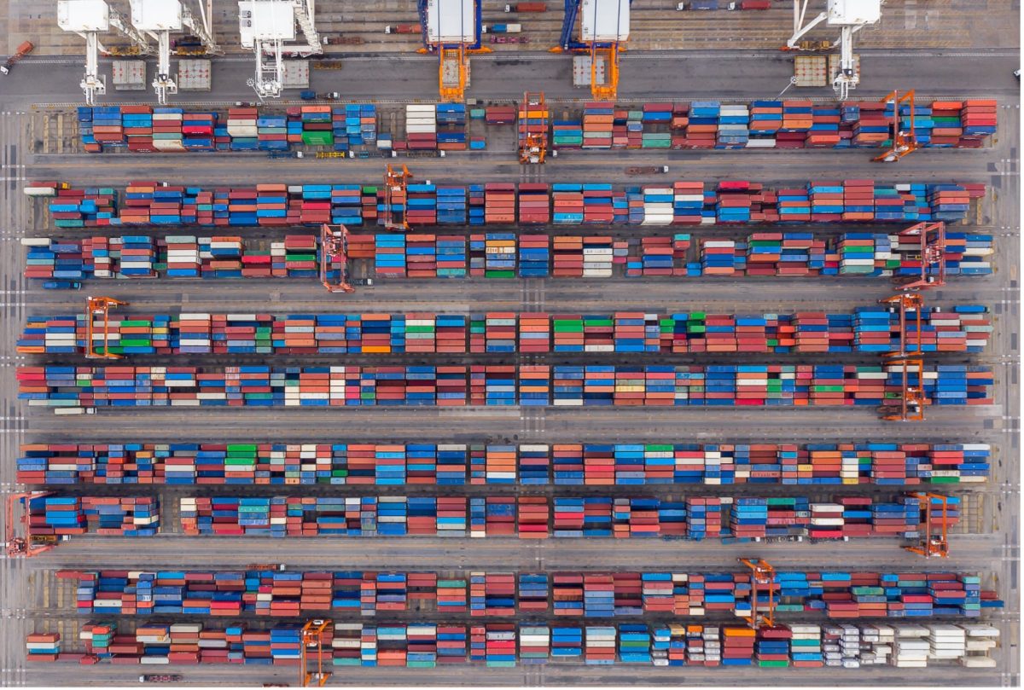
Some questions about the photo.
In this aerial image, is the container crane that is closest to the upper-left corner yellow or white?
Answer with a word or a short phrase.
white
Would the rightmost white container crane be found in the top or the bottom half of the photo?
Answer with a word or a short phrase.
top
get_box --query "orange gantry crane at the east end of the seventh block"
[899,490,948,557]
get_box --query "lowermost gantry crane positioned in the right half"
[734,556,774,626]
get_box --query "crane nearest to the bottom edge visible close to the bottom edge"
[301,618,338,690]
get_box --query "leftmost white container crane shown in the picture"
[57,0,157,106]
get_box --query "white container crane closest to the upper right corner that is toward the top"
[778,0,879,103]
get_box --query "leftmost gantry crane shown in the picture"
[5,490,58,557]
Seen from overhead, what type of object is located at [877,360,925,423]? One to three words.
container crane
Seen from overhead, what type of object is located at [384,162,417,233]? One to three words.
container crane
